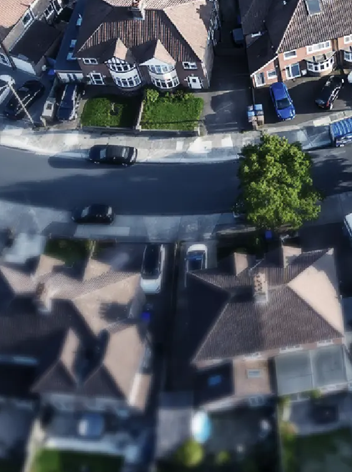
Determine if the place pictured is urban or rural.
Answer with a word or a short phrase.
urban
